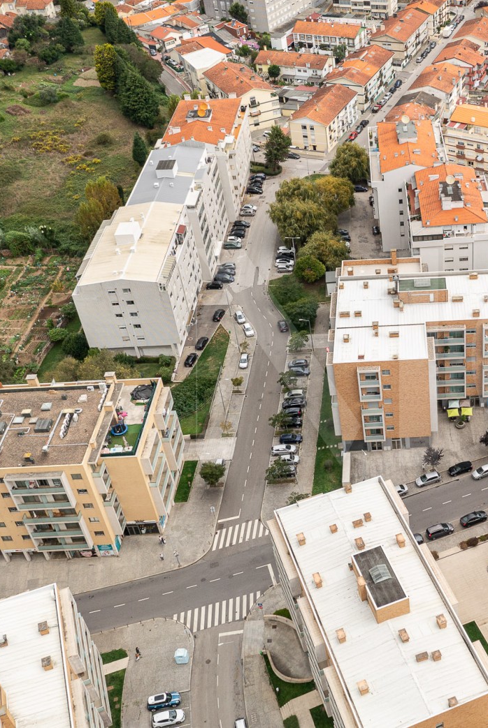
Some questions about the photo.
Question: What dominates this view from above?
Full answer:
The largest share of the image is taken up by buildings.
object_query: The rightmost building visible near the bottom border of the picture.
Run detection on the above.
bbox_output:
[263,476,488,728]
